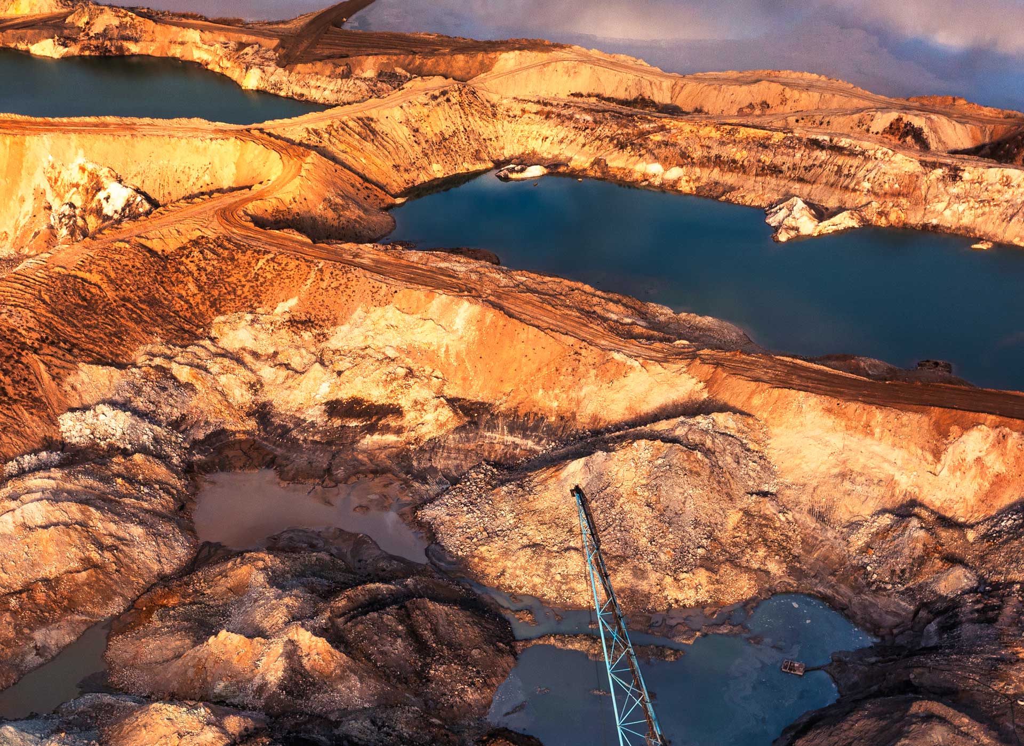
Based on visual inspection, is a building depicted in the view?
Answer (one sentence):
No, the picture doesn't show any building.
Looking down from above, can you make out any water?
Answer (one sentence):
Yes, there is water in the image.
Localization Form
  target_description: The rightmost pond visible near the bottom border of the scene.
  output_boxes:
[468,579,883,746]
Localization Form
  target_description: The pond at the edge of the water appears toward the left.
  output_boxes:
[189,468,437,564]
